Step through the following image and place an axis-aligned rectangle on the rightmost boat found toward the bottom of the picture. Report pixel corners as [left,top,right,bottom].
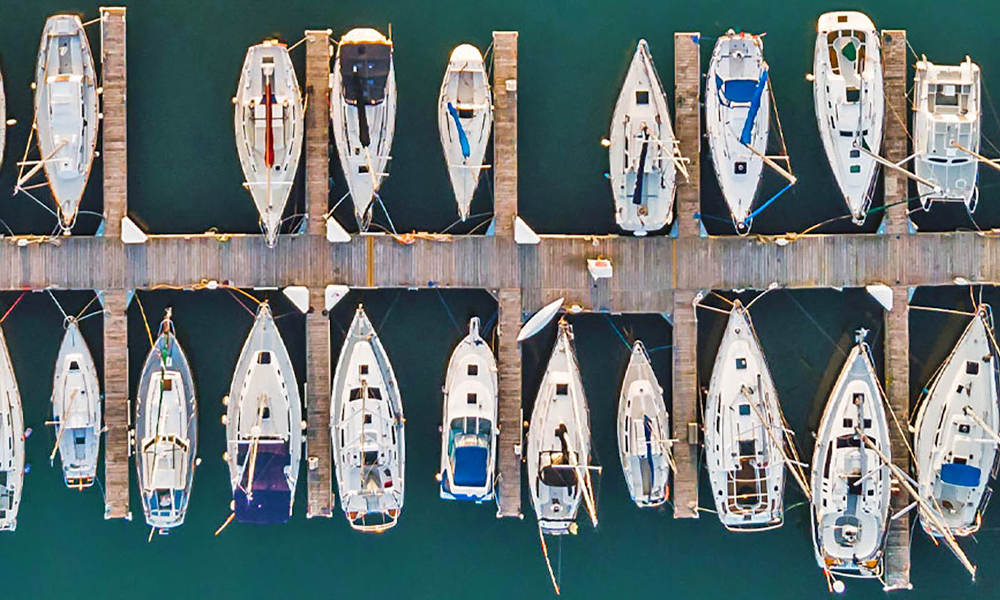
[914,304,1000,545]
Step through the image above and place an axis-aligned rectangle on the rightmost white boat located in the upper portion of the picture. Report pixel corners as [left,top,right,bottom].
[911,55,1000,213]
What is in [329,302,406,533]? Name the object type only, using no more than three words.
boat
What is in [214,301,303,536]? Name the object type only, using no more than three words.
boat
